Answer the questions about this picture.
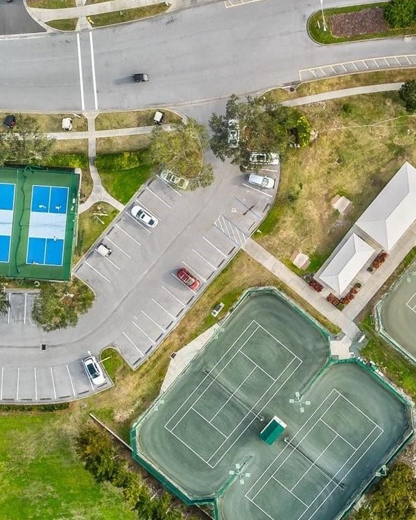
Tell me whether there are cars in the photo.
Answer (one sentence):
Yes, you can see a car in this photo.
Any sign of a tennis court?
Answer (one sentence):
Yes, the frame does contain a tennis court.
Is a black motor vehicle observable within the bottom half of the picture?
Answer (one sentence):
No, the scene shows no black motor vehicle within the bottom half of the picture.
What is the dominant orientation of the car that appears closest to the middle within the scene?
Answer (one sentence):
In this picture, the car that appears closest to the middle is oriented at an angle.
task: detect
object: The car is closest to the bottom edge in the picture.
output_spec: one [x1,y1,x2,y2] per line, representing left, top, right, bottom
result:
[86,356,105,384]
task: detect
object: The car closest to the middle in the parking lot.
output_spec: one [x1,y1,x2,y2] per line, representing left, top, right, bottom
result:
[176,267,202,291]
